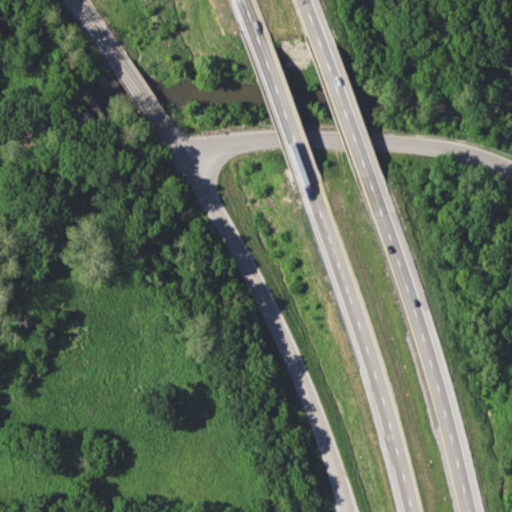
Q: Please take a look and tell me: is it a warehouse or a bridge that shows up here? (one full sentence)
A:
There is a bridge in the scene.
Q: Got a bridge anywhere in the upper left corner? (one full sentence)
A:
Yes, I can see a bridge in the upper left corner.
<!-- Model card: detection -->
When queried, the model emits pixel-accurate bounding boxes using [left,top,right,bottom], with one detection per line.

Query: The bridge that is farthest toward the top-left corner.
[109,54,168,128]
